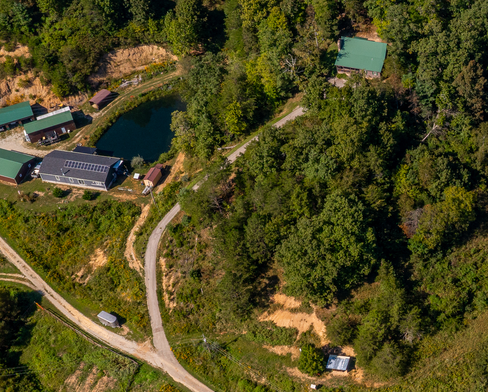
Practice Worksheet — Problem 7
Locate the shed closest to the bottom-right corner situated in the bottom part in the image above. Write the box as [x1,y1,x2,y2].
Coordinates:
[326,352,348,374]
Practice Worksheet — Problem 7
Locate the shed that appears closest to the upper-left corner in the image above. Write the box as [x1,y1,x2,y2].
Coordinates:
[0,102,34,126]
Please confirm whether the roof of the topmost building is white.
No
